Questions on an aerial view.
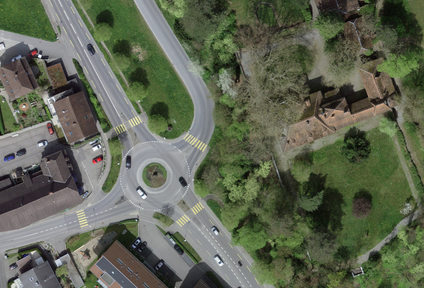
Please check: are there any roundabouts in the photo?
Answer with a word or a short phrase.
Yes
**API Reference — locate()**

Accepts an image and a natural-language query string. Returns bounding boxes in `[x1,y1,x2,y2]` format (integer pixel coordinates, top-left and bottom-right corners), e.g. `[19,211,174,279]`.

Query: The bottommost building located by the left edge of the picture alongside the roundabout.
[0,151,84,232]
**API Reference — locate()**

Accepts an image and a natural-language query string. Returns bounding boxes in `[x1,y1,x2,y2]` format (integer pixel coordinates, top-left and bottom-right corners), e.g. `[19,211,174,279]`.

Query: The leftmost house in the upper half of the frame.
[0,56,38,101]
